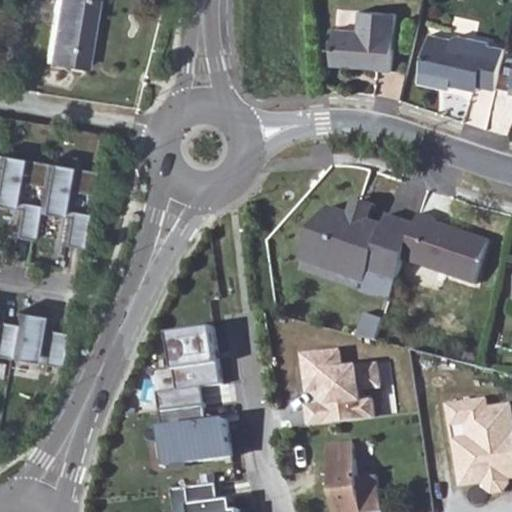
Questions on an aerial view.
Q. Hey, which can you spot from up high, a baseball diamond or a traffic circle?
traffic circle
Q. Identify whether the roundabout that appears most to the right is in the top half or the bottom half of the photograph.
top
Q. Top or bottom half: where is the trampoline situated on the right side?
bottom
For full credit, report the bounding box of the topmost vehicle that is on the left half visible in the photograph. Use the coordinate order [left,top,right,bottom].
[160,152,174,176]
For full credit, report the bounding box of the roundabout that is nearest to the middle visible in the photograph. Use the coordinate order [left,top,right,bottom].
[147,82,281,215]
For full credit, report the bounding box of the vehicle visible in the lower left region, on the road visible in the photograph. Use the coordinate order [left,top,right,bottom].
[94,388,108,412]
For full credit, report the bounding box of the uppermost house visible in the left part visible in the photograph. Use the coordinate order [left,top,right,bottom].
[52,0,100,70]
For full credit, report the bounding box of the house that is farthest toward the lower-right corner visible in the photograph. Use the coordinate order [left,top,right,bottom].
[442,396,512,494]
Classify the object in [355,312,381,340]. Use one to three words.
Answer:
shed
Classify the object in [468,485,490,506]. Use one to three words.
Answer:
trampoline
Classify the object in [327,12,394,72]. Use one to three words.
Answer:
house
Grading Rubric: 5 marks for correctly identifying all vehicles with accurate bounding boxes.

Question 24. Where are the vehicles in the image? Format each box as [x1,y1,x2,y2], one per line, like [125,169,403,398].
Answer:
[295,445,306,468]
[502,66,512,88]
[288,391,312,408]
[160,152,174,176]
[94,388,108,412]
[6,296,16,317]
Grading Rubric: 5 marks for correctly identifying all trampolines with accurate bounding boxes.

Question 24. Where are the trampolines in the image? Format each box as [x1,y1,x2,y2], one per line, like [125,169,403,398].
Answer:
[468,485,490,506]
[143,430,154,441]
